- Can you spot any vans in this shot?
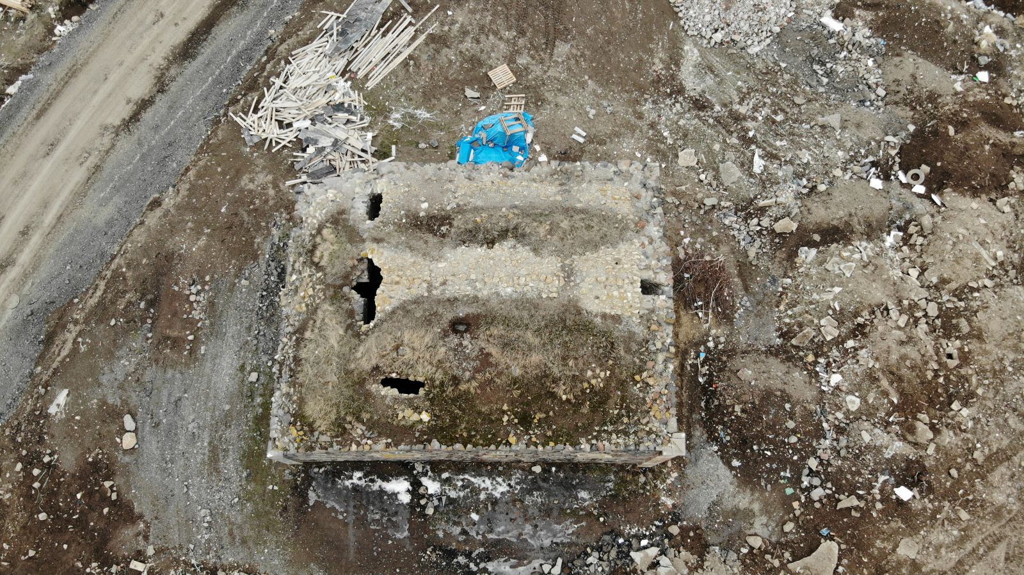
No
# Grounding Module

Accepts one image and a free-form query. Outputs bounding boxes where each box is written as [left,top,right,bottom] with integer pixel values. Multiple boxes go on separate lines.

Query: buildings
[266,154,687,468]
